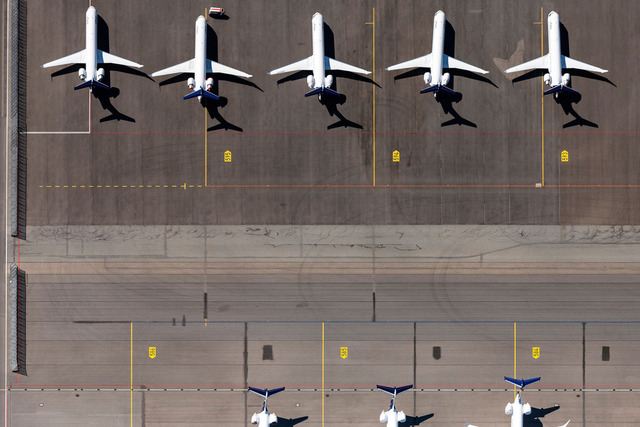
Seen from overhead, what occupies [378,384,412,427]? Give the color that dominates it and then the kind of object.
white airplane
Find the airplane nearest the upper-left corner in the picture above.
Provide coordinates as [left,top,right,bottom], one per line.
[41,6,142,93]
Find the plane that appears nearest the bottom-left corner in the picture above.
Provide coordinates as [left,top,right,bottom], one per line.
[249,386,284,427]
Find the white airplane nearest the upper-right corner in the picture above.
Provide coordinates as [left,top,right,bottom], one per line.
[506,10,607,96]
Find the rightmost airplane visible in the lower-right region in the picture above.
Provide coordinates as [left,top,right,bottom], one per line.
[504,376,539,427]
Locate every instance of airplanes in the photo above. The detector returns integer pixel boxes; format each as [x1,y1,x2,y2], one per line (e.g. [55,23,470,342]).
[249,386,284,427]
[149,15,251,101]
[386,10,488,96]
[504,376,539,427]
[269,12,370,98]
[41,6,142,93]
[506,10,607,96]
[378,384,412,427]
